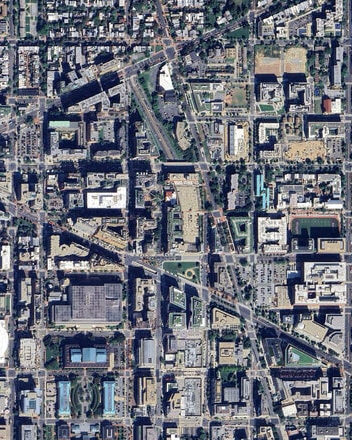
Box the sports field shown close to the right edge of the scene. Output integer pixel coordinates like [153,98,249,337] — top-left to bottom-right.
[289,215,339,253]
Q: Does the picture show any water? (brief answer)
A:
No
